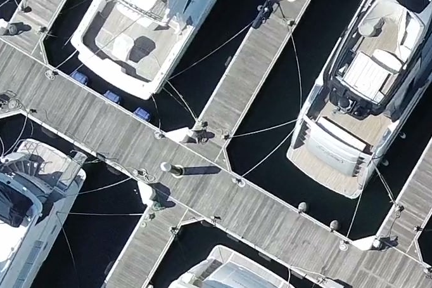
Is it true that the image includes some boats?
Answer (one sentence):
Yes, a boat appears in the view.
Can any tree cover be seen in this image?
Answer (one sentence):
No, the picture contains no tree cover.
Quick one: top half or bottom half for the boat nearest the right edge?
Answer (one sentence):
The boat nearest the right edge sits in the top half of the picture.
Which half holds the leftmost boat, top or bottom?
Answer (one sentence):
You can find the leftmost boat in the bottom half.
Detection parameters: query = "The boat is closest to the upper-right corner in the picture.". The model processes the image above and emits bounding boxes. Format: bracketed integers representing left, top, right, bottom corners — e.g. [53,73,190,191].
[287,0,432,199]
